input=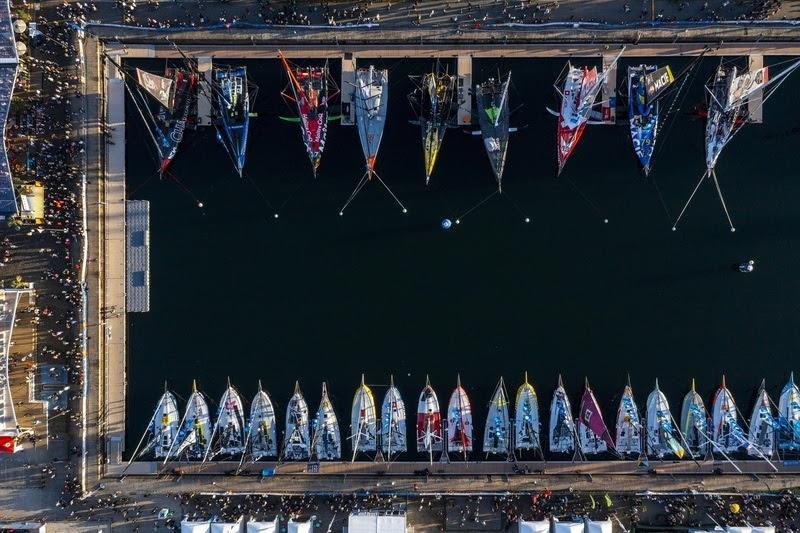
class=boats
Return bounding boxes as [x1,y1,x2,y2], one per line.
[733,261,755,272]
[101,47,205,203]
[170,36,274,211]
[773,372,800,461]
[509,372,547,467]
[747,379,800,463]
[479,376,515,471]
[673,61,800,228]
[404,54,466,185]
[460,66,527,220]
[376,374,410,474]
[622,43,712,202]
[542,375,586,467]
[708,376,779,477]
[677,379,744,477]
[412,374,444,470]
[446,374,473,474]
[278,47,346,179]
[236,380,284,479]
[306,382,345,475]
[644,378,704,471]
[345,374,383,467]
[341,63,404,212]
[611,375,662,468]
[121,380,182,477]
[547,43,626,220]
[275,381,314,475]
[196,376,248,477]
[159,381,216,478]
[577,377,625,463]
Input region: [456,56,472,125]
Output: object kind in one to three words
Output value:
pier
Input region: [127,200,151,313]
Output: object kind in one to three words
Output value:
pier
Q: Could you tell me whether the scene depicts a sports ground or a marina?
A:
marina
